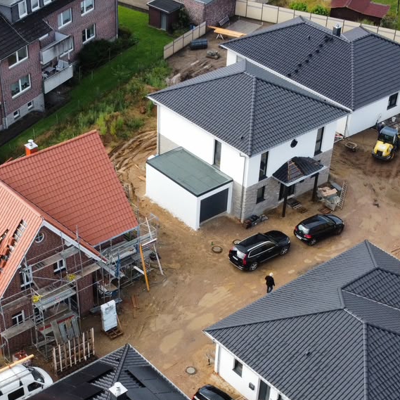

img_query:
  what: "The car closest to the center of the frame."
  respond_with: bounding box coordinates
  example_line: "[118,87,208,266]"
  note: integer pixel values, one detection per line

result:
[225,227,295,270]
